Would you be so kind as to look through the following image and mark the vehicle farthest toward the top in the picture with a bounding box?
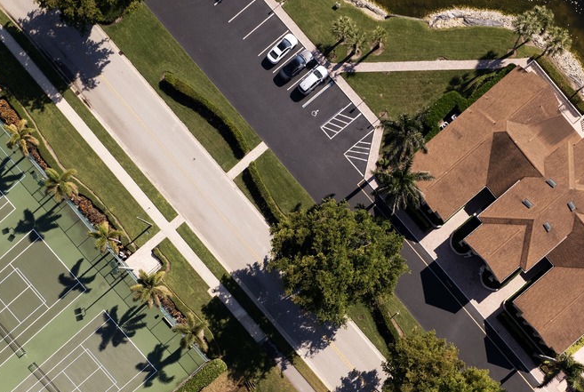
[265,33,299,64]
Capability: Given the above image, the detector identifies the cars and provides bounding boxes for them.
[265,33,299,64]
[298,64,330,96]
[279,50,313,81]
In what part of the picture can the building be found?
right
